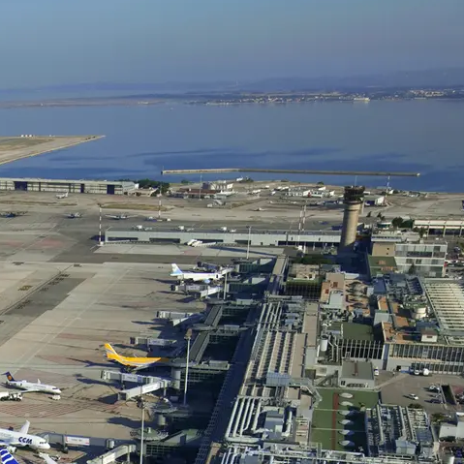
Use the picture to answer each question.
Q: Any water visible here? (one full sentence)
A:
Yes, there is water in the image.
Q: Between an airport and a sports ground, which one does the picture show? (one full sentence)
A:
This image shows an airport.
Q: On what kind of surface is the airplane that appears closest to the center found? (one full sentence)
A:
In this view, the airplane that appears closest to the center is located on the apron.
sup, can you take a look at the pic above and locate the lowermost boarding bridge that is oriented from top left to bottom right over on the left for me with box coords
[125,336,175,369]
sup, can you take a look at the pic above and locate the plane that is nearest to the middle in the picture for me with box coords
[164,261,225,281]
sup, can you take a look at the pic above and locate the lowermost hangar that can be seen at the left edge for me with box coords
[0,178,140,199]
